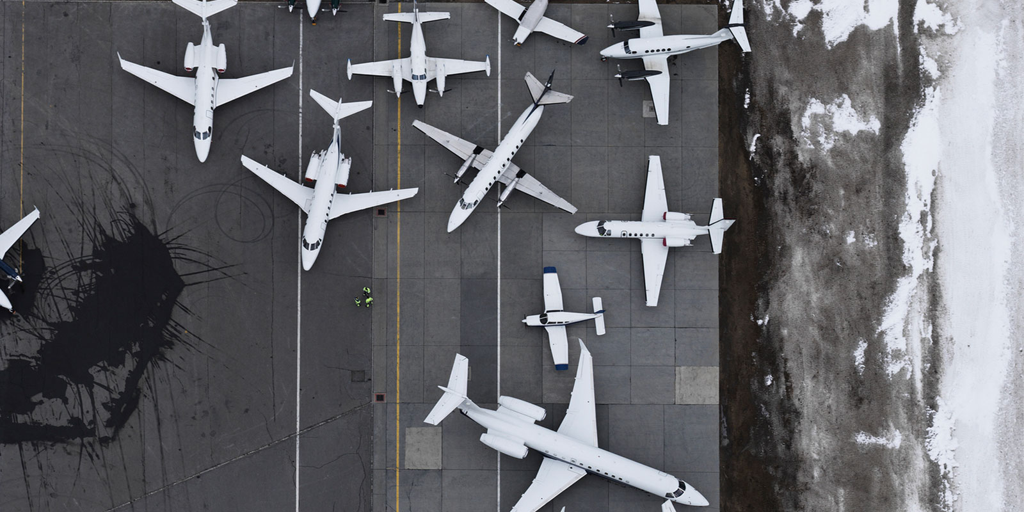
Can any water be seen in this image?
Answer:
No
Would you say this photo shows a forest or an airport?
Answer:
airport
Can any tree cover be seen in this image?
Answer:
No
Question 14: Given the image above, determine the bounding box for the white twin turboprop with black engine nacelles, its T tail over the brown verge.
[600,0,752,125]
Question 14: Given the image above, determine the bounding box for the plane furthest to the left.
[0,199,35,308]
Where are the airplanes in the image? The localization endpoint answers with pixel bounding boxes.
[423,339,709,512]
[487,0,590,49]
[347,0,491,109]
[523,264,606,372]
[243,88,415,271]
[0,199,35,308]
[117,0,294,164]
[411,70,577,233]
[575,156,737,305]
[660,501,676,512]
[600,0,752,125]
